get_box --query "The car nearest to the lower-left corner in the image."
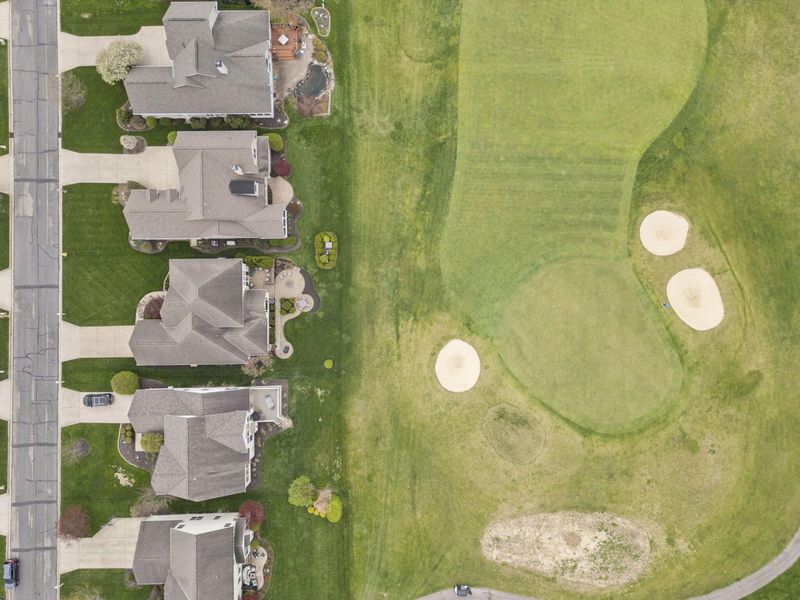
[2,560,20,589]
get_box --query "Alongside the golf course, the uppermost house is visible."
[124,2,275,117]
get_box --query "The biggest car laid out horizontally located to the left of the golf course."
[80,393,112,408]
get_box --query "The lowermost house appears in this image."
[133,513,259,600]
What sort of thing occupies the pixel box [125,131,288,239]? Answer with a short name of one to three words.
house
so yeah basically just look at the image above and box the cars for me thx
[80,393,112,408]
[2,560,20,589]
